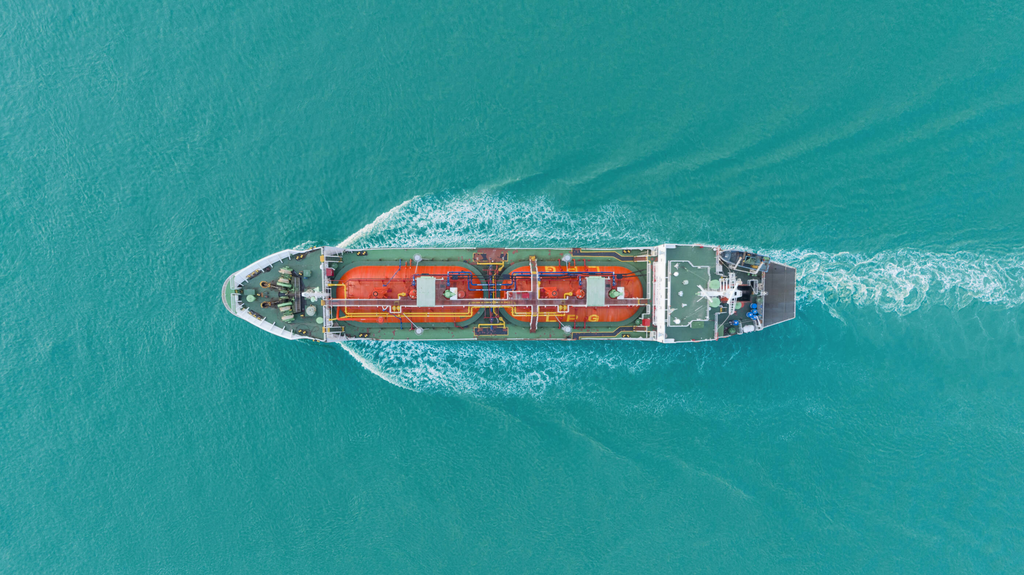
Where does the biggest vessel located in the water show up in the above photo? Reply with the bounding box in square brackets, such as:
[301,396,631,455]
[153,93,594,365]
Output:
[222,244,797,344]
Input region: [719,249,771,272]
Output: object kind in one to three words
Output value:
boat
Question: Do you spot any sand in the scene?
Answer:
No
